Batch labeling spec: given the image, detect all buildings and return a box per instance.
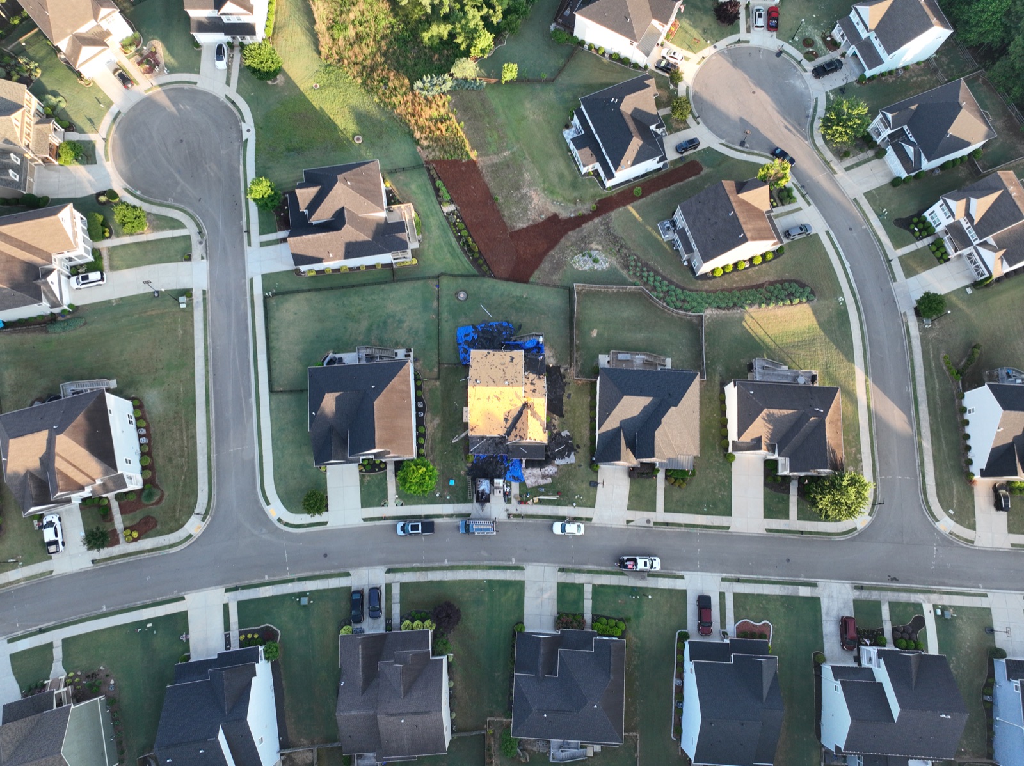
[149,646,273,766]
[553,0,685,67]
[284,160,419,274]
[655,177,784,275]
[594,348,700,471]
[822,646,975,766]
[726,356,844,476]
[307,344,417,467]
[563,70,674,190]
[15,0,138,79]
[0,81,63,198]
[831,0,944,80]
[922,153,1024,280]
[684,638,786,766]
[0,202,88,320]
[0,673,108,766]
[183,0,267,47]
[511,629,628,764]
[0,378,137,516]
[869,72,997,179]
[335,630,448,766]
[990,659,1024,766]
[468,330,548,460]
[958,365,1024,479]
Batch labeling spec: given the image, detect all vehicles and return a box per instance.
[112,66,135,90]
[72,271,106,289]
[43,513,66,557]
[551,521,585,536]
[459,519,496,535]
[671,136,703,157]
[838,614,858,651]
[752,6,766,31]
[350,589,365,625]
[765,9,779,32]
[367,585,383,620]
[694,593,713,637]
[214,43,229,69]
[808,59,843,81]
[768,144,796,168]
[780,222,813,242]
[396,520,436,536]
[657,48,686,66]
[618,556,661,572]
[989,481,1011,514]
